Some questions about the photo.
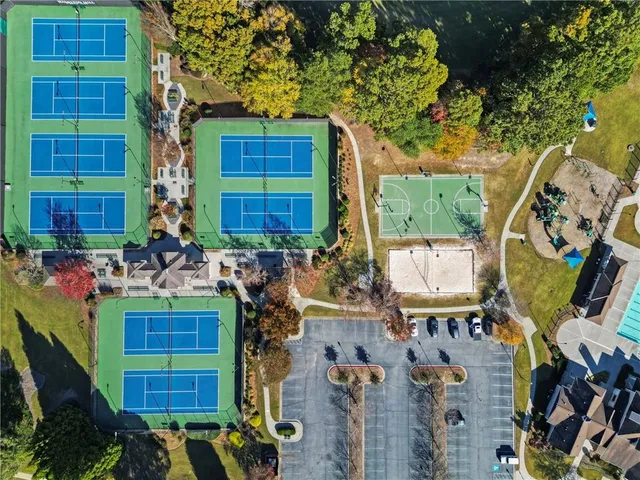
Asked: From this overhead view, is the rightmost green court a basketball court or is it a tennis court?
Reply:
basketball court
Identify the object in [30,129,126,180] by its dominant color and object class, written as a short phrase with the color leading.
blue tennis court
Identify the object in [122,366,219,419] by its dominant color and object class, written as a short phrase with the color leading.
blue tennis court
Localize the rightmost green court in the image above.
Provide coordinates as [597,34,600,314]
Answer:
[379,176,484,238]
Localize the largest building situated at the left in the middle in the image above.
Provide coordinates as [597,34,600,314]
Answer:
[126,252,212,290]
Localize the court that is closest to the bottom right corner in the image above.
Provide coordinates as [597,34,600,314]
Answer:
[388,249,474,293]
